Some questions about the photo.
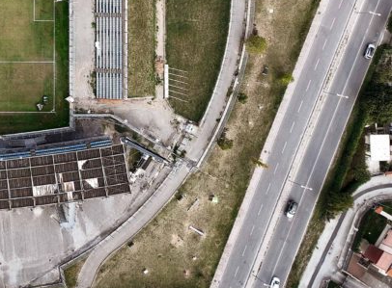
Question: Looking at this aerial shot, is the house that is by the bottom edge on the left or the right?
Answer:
right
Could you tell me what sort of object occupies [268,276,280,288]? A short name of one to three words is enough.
vehicle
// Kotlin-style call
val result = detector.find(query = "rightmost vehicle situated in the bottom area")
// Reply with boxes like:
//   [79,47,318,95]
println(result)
[284,200,297,218]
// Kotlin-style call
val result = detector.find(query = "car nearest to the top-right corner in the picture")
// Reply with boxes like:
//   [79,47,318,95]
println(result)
[364,43,376,59]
